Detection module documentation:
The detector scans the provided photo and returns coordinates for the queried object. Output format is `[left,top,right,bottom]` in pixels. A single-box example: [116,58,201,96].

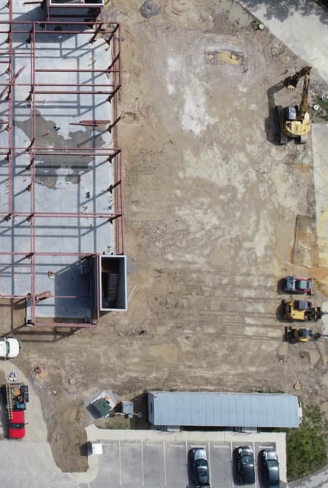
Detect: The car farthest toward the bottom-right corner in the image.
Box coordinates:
[259,451,279,488]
